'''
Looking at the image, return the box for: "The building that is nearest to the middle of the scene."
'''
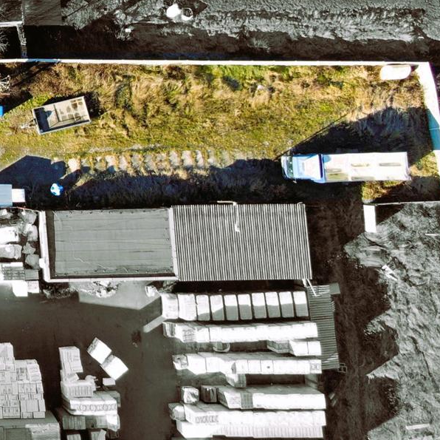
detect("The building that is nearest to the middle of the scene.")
[159,201,315,296]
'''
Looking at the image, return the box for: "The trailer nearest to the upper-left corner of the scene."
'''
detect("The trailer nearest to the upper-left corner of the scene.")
[24,95,95,136]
